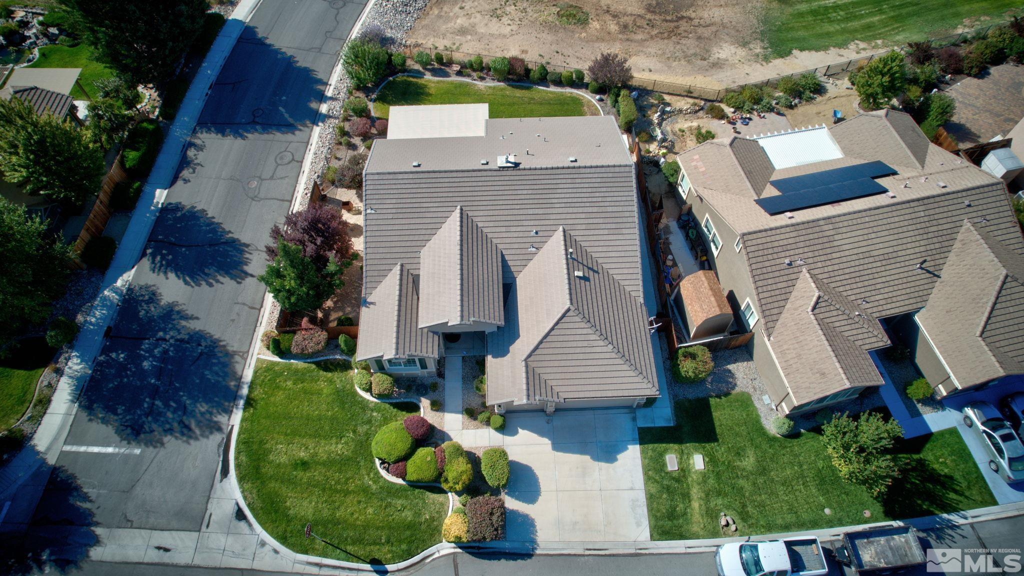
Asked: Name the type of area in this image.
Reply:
residential area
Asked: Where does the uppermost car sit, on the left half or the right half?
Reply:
right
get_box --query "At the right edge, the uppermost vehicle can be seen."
[1000,380,1024,432]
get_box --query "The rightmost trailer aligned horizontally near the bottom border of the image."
[821,524,926,576]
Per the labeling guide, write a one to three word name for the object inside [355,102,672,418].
house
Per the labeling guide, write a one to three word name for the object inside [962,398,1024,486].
car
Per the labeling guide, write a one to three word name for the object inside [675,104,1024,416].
house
